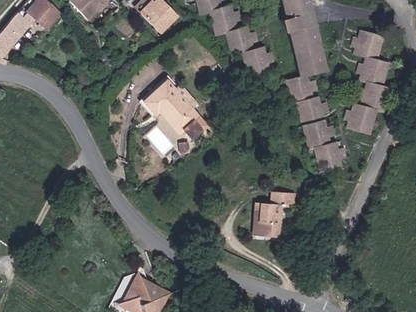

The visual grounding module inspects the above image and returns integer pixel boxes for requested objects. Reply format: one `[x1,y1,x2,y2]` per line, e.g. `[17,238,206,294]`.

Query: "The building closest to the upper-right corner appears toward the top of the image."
[350,30,384,59]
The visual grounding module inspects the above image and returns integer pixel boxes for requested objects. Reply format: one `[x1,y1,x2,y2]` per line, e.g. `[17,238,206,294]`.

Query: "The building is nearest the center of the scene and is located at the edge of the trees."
[144,79,211,164]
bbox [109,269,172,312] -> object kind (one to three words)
building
